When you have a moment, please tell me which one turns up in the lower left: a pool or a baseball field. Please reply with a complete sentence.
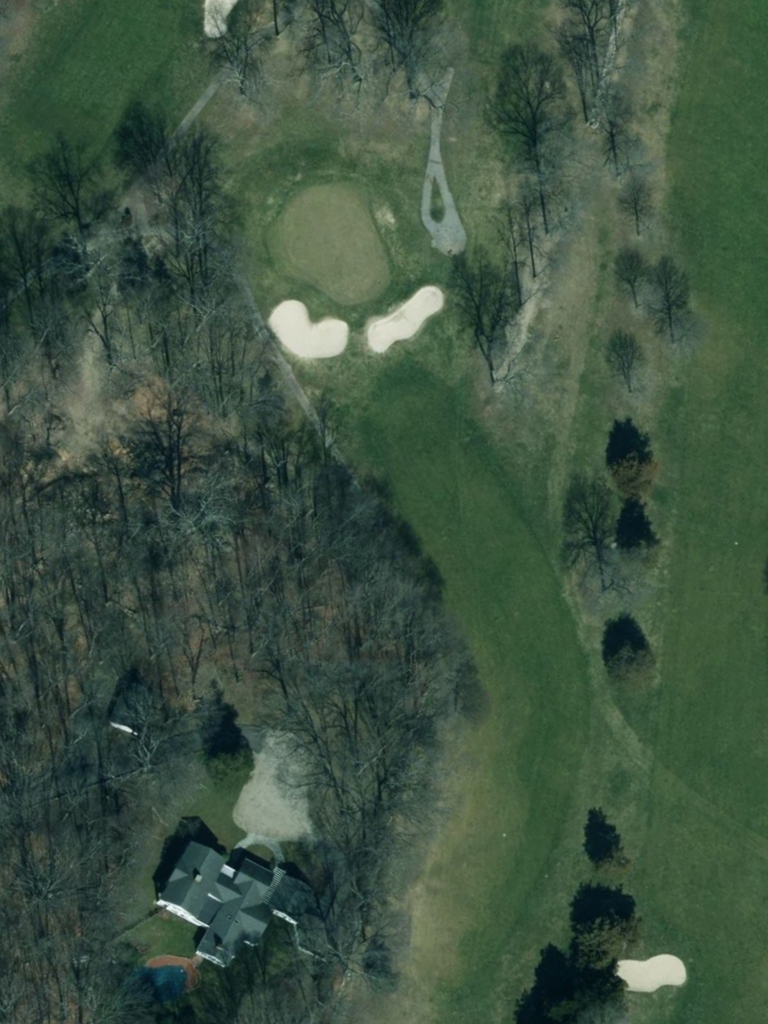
It is a pool that can be seen in the lower left.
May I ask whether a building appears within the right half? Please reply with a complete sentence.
No, I see no building within the right half.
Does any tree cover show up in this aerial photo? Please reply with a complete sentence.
Yes, there's tree cover in this view.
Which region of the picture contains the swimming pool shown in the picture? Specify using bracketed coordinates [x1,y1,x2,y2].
[130,954,202,1006]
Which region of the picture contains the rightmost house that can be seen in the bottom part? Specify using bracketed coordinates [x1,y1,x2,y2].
[160,843,311,966]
